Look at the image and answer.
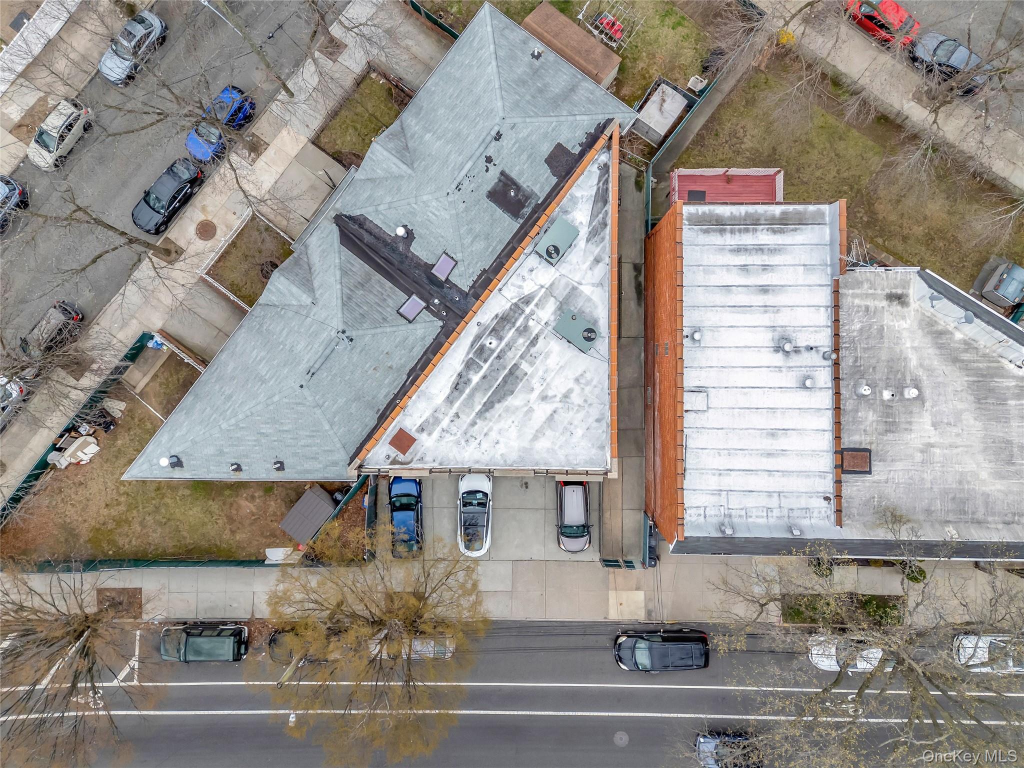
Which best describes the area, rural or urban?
urban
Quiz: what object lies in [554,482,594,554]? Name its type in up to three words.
car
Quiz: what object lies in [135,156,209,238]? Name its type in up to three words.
car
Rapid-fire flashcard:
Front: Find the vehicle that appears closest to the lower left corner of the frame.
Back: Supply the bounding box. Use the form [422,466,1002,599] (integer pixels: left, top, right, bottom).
[164,624,247,666]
